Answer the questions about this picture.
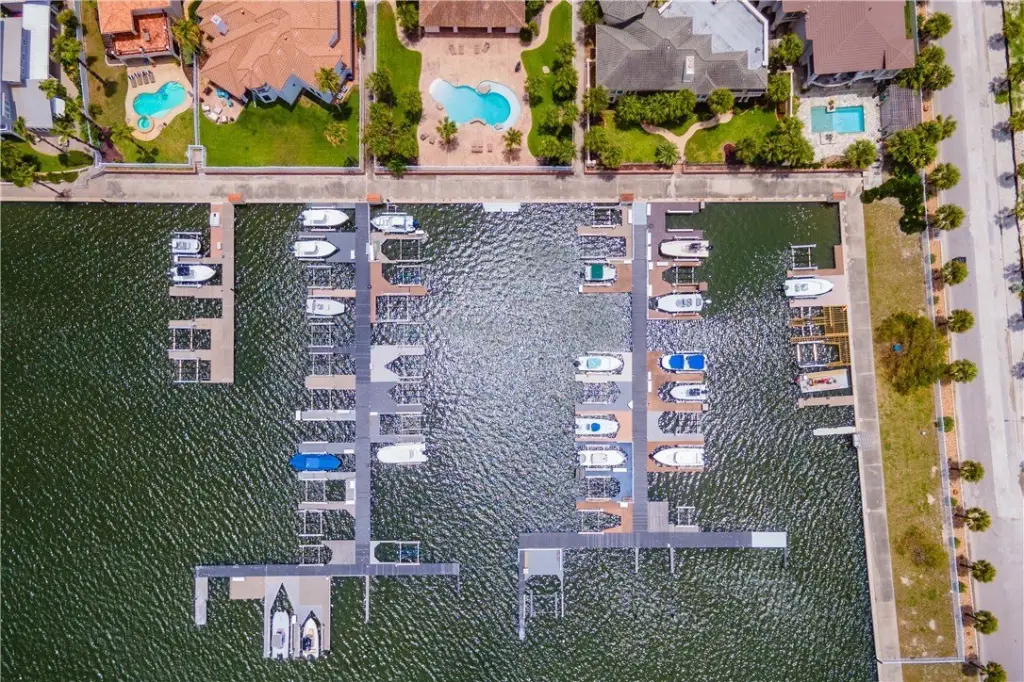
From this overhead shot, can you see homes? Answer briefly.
Yes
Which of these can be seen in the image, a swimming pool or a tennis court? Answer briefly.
swimming pool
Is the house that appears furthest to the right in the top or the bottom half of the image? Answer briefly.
top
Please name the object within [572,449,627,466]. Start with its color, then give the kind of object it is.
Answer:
white boat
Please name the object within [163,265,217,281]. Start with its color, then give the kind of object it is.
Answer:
white boat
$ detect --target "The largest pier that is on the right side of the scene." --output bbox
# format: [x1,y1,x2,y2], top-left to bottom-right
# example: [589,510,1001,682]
[519,203,786,548]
